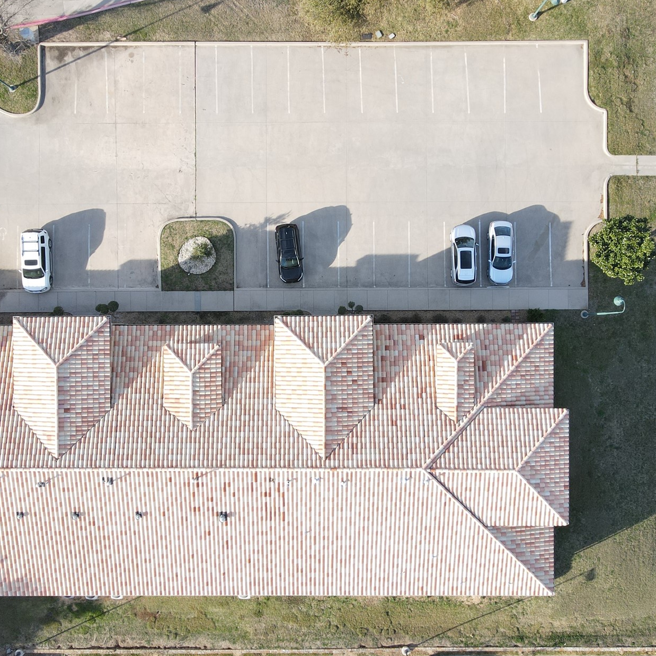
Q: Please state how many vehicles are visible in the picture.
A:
4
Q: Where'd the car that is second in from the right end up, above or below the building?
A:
above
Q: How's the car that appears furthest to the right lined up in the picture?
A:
from top to bottom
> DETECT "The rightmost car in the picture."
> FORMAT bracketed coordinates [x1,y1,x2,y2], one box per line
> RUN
[485,221,516,285]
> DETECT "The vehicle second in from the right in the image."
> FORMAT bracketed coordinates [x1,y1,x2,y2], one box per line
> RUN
[448,225,480,286]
